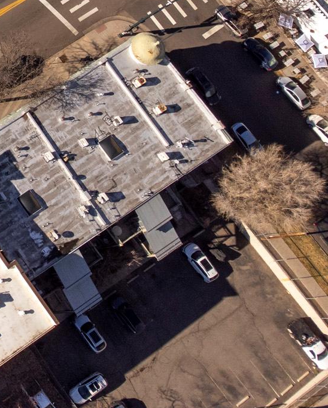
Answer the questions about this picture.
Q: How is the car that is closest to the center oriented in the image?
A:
at an angle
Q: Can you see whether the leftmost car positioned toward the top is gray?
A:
No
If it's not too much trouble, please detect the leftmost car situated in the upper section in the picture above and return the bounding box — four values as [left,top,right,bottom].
[182,66,225,109]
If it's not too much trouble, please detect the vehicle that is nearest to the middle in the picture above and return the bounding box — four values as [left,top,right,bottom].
[182,242,223,286]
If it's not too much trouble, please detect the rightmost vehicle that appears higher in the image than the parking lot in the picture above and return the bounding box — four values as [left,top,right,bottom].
[303,115,328,153]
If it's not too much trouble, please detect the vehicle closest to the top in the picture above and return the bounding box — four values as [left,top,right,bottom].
[212,5,251,42]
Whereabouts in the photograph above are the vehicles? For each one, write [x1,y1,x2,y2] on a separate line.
[284,315,328,367]
[107,291,152,341]
[212,5,251,42]
[67,370,111,407]
[182,242,223,286]
[241,37,281,74]
[73,312,111,358]
[303,115,328,153]
[226,118,267,157]
[273,75,314,112]
[182,66,225,109]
